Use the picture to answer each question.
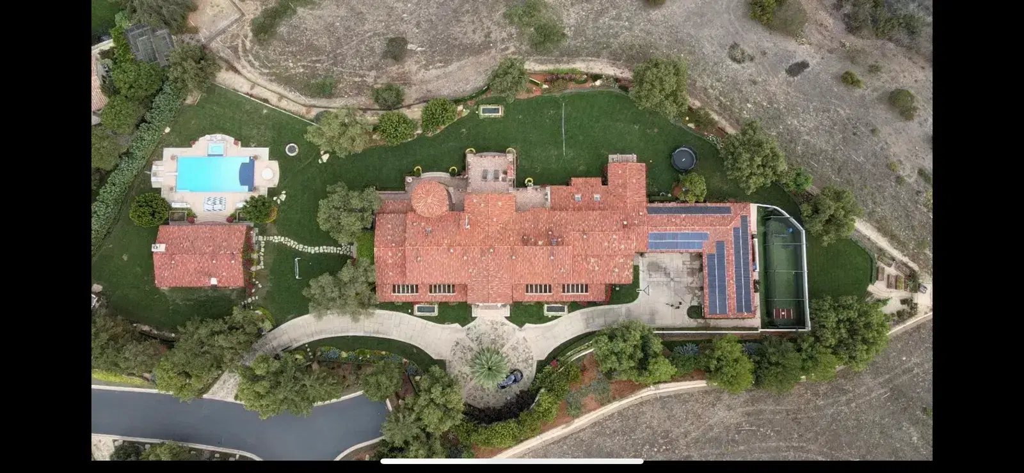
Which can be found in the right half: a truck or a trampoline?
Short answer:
trampoline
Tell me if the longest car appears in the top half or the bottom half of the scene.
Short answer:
bottom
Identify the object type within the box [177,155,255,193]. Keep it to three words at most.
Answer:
swimming pool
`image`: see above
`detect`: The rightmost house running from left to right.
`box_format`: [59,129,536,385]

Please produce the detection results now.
[374,162,757,319]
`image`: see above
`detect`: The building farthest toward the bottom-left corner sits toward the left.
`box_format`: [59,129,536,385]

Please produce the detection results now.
[152,224,249,288]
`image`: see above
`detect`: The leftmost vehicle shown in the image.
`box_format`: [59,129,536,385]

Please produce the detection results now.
[497,368,524,391]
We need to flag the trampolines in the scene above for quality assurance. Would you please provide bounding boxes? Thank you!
[669,144,700,173]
